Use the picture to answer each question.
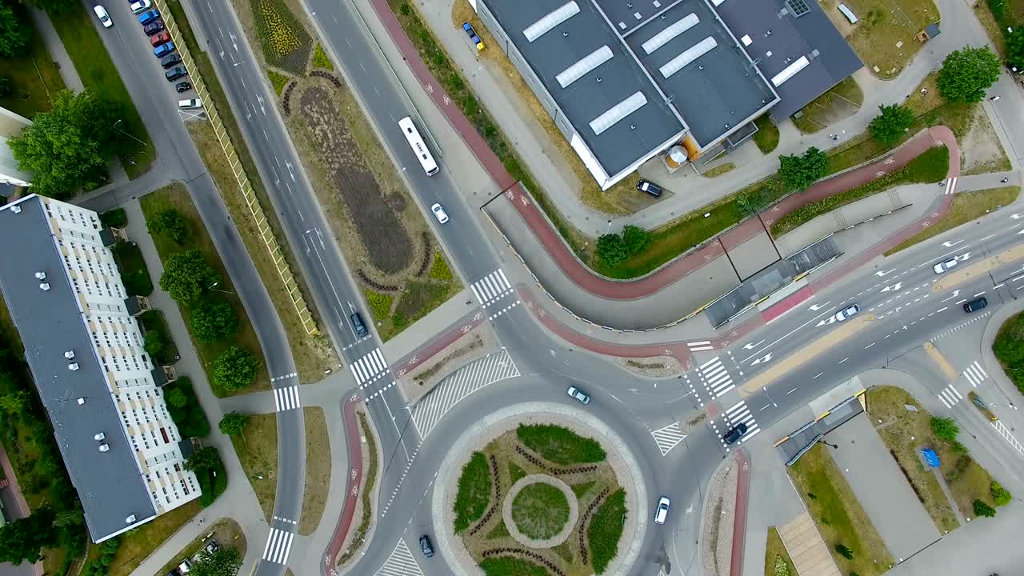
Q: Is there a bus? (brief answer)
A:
Yes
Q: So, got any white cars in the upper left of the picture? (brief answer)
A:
Yes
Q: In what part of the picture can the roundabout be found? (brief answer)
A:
bottom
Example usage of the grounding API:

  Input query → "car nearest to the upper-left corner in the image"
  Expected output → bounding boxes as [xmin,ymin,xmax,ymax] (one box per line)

[94,3,111,28]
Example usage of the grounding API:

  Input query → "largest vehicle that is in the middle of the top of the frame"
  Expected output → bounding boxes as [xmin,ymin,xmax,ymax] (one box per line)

[395,117,443,179]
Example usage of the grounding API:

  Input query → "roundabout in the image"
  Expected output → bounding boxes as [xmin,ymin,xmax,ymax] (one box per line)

[374,348,714,576]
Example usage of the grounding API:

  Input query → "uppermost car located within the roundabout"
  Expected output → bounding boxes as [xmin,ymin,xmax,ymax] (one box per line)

[566,385,591,405]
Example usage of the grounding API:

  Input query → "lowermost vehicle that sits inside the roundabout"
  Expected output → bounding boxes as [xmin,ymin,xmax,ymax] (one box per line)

[418,533,434,559]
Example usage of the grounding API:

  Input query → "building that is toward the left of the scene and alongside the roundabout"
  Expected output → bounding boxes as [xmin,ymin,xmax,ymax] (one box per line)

[0,194,213,545]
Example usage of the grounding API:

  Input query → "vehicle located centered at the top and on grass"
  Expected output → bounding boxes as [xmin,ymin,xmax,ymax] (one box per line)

[464,24,482,48]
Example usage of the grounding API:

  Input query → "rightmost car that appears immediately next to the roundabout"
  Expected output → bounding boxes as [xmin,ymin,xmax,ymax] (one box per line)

[722,422,747,445]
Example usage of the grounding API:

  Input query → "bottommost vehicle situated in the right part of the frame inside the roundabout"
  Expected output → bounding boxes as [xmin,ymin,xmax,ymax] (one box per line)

[655,498,670,523]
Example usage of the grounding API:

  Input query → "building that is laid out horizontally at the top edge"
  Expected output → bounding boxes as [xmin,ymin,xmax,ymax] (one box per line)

[465,0,865,190]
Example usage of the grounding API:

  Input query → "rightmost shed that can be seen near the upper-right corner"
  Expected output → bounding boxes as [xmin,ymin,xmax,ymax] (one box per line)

[910,21,942,48]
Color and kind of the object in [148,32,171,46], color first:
red car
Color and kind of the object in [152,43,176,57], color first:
blue car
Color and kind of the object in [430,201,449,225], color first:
white car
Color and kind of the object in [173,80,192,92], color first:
black vehicle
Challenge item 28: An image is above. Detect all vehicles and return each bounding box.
[418,533,434,559]
[566,385,591,405]
[395,117,443,179]
[176,97,202,109]
[127,0,142,6]
[430,201,449,225]
[173,80,192,92]
[129,0,152,14]
[655,498,670,523]
[138,10,160,24]
[961,297,989,313]
[722,422,747,445]
[159,54,181,68]
[163,66,187,80]
[94,3,111,28]
[148,32,171,46]
[835,303,861,321]
[350,310,366,337]
[152,43,176,57]
[932,256,959,273]
[142,21,165,35]
[173,556,195,576]
[464,24,482,48]
[636,181,663,197]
